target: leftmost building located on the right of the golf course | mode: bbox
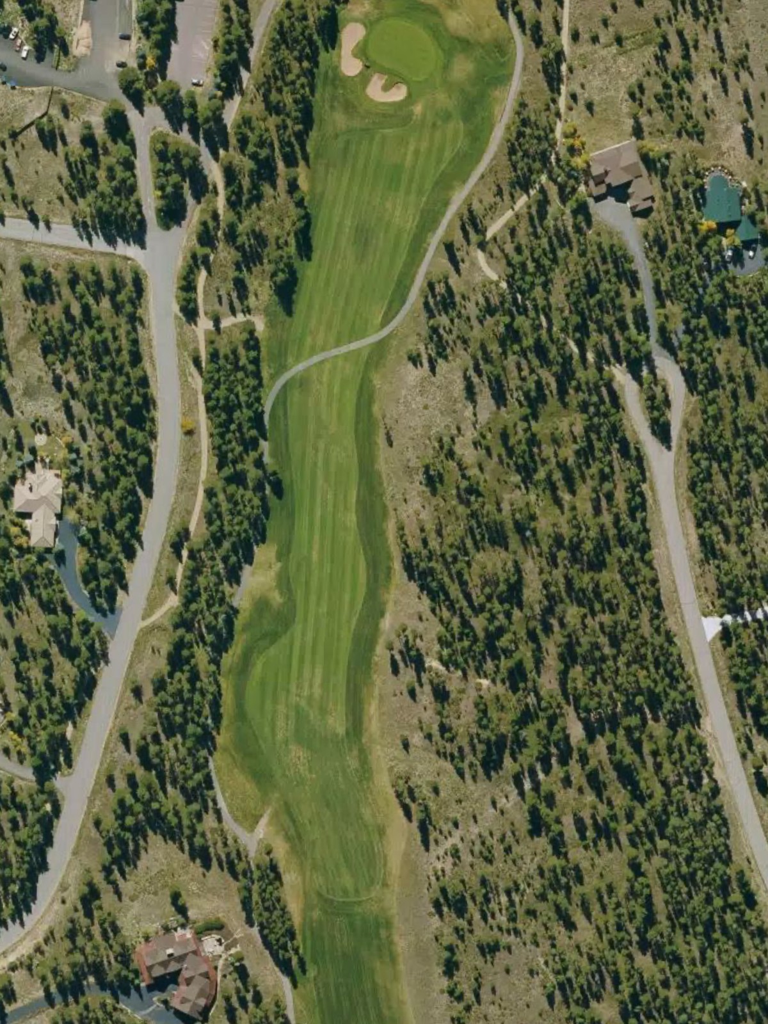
[586,136,656,212]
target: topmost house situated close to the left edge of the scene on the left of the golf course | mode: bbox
[13,461,62,547]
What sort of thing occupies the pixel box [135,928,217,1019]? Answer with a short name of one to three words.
house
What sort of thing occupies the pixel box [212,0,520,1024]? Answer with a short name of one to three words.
golf course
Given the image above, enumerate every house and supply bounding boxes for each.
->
[135,928,217,1019]
[13,461,62,547]
[705,172,742,222]
[586,136,656,212]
